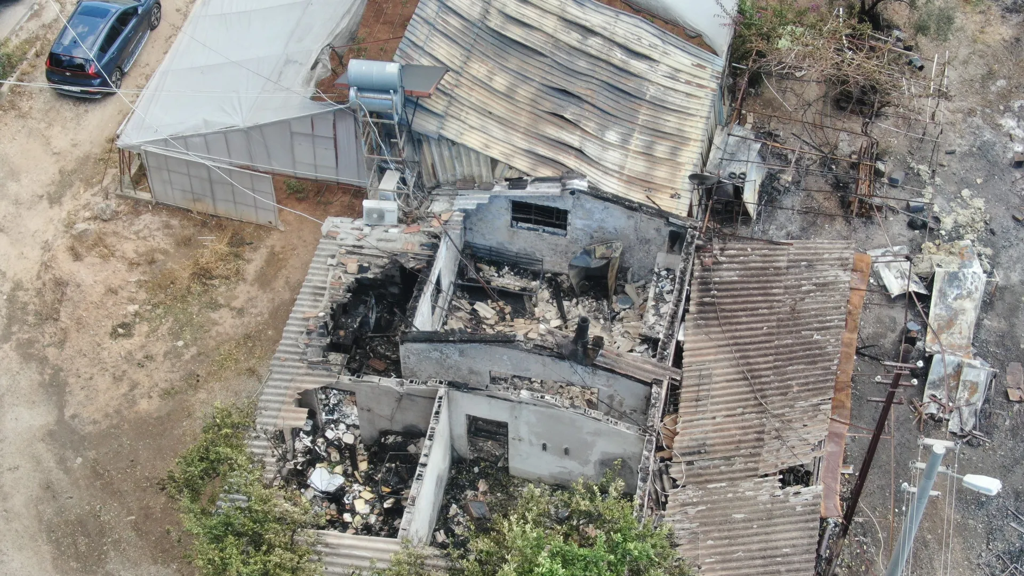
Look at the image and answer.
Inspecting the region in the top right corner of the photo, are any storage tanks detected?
No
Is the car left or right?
left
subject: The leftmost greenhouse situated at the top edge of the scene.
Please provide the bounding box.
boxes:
[100,0,401,229]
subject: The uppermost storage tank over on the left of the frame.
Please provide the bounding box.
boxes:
[346,60,402,93]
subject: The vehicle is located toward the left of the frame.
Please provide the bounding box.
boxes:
[43,0,163,100]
